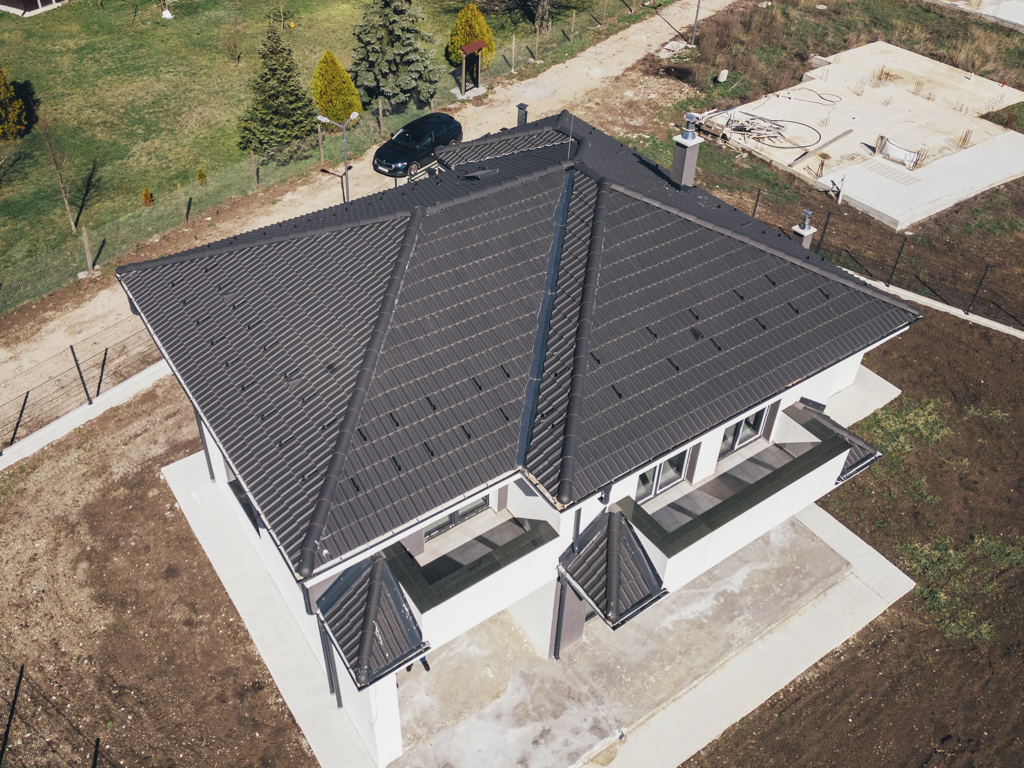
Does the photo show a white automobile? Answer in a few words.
No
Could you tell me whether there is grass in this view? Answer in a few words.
Yes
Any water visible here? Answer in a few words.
No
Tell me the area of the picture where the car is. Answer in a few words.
top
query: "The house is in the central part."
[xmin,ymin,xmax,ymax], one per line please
[112,84,924,766]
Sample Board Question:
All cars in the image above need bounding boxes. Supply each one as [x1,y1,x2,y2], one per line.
[371,108,466,179]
